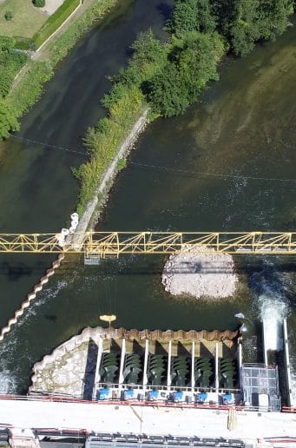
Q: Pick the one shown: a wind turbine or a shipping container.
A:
wind turbine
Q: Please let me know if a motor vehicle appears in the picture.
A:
No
